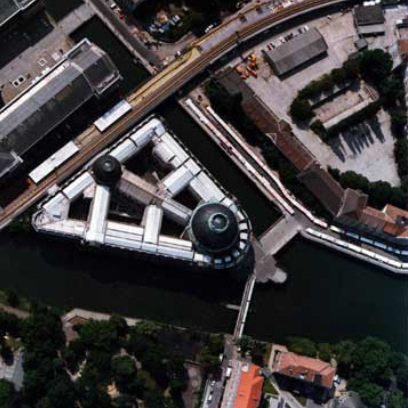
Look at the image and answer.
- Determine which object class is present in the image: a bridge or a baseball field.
bridge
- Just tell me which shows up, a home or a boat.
home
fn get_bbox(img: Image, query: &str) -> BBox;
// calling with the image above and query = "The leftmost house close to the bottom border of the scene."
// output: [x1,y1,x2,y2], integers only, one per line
[223,359,264,408]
